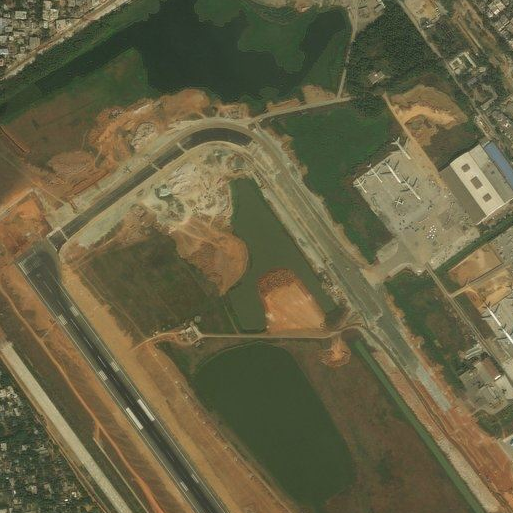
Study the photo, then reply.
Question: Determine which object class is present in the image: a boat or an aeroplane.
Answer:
aeroplane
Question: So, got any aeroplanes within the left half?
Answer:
No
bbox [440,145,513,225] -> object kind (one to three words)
hangar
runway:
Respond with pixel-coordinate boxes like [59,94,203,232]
[15,240,231,513]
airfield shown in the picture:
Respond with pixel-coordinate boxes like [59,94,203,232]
[2,128,513,513]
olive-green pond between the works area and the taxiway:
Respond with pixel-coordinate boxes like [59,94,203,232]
[225,178,336,333]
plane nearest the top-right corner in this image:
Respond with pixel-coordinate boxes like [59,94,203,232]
[392,138,411,159]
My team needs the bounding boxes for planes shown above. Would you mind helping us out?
[368,165,383,182]
[354,176,368,193]
[399,173,421,199]
[482,303,502,327]
[392,138,411,159]
[498,326,513,348]
[382,159,401,182]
